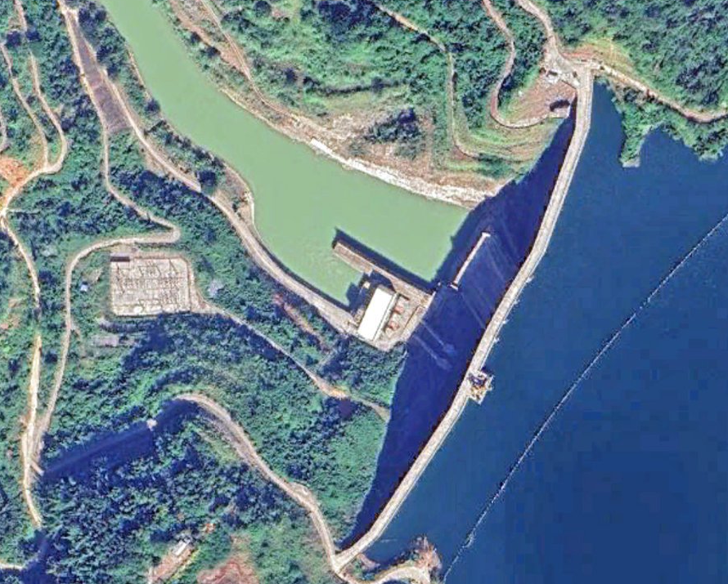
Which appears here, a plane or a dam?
dam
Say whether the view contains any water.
Yes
